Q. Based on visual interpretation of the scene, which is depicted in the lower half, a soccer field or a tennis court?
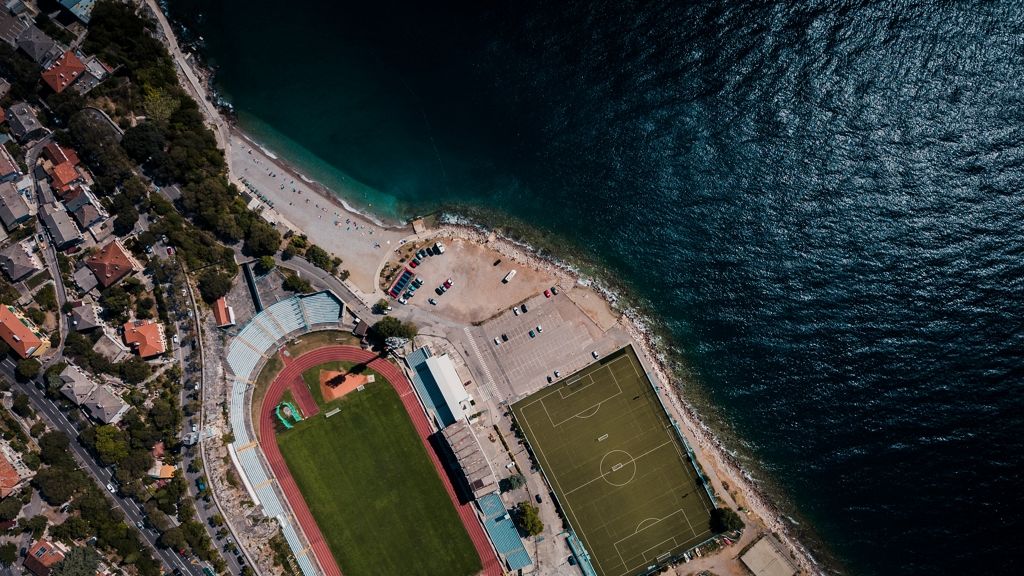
soccer field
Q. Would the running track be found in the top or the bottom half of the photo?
bottom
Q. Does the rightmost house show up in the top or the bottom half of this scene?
bottom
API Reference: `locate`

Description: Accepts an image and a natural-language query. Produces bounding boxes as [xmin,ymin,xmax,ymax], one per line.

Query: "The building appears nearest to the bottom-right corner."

[739,535,800,576]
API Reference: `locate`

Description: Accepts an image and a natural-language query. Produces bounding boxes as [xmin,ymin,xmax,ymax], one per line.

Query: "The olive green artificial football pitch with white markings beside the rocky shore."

[513,346,718,576]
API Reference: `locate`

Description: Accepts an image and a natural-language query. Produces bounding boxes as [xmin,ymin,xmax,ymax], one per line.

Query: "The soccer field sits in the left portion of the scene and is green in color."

[274,361,485,576]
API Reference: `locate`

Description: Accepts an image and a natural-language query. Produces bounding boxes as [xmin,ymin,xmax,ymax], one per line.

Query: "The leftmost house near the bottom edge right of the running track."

[566,532,597,576]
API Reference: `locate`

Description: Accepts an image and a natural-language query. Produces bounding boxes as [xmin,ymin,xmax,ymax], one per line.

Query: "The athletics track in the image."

[259,345,507,576]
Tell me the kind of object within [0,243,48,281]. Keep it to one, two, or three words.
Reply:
house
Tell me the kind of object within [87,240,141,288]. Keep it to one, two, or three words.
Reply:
house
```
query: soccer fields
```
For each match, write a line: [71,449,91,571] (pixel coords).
[513,346,718,576]
[274,361,485,576]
